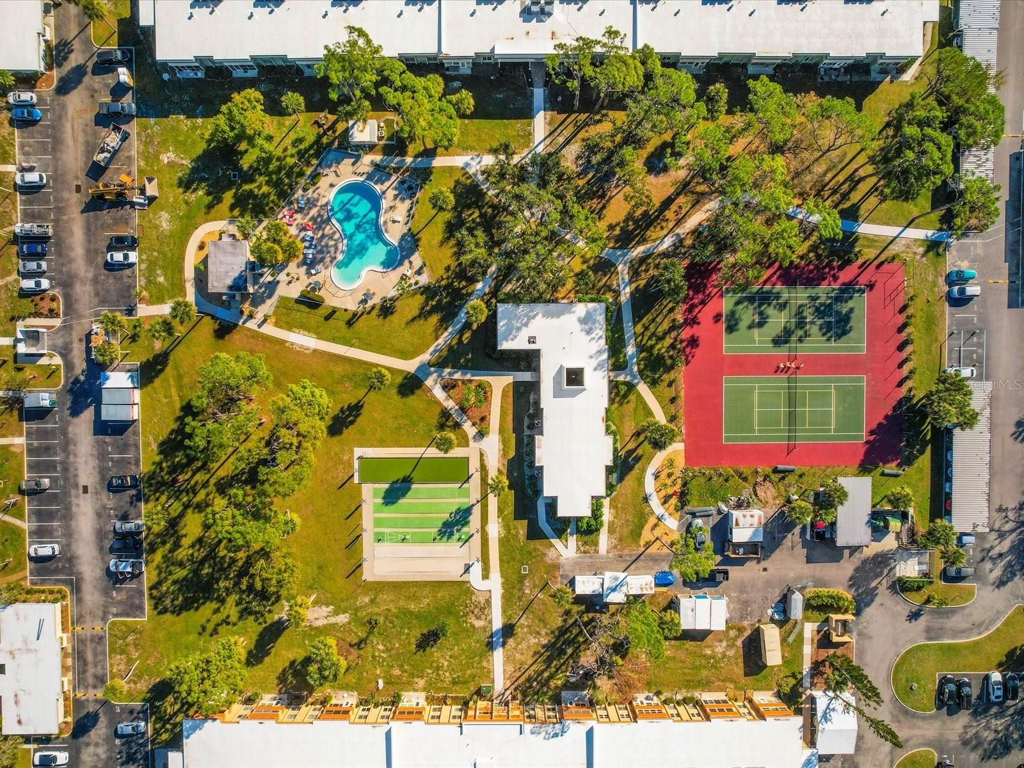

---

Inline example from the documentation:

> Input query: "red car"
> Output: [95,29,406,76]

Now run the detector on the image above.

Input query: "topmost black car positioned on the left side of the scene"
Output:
[97,48,130,65]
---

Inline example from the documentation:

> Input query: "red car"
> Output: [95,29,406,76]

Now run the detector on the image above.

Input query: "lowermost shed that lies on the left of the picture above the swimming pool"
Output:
[349,120,379,148]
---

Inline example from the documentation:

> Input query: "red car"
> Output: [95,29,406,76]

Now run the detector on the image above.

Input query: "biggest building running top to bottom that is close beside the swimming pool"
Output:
[496,302,614,517]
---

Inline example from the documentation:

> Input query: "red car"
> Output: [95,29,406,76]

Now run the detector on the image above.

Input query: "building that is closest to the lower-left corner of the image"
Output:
[0,599,72,734]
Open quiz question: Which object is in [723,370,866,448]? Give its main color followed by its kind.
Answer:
green tennis court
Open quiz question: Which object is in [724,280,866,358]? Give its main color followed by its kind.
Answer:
green tennis court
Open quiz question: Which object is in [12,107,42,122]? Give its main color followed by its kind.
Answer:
blue car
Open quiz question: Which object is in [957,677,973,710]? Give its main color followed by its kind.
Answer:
black vehicle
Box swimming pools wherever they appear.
[225,150,429,323]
